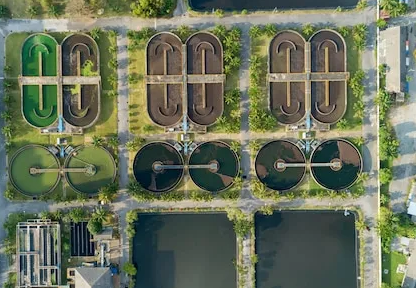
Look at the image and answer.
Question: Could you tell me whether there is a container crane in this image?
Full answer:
No, the photo shows no container crane.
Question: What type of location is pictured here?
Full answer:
What you see here is an industrial area.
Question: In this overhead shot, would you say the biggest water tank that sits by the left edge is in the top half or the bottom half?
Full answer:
It is in the top half that the biggest water tank that sits by the left edge appears.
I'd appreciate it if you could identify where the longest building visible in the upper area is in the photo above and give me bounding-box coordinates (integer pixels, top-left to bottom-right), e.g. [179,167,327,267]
[377,26,403,94]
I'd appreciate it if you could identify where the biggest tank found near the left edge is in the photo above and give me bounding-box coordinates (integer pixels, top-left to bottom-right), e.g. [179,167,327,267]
[20,32,102,135]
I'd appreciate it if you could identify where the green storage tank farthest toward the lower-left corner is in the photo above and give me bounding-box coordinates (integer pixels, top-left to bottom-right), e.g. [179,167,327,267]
[9,145,61,197]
